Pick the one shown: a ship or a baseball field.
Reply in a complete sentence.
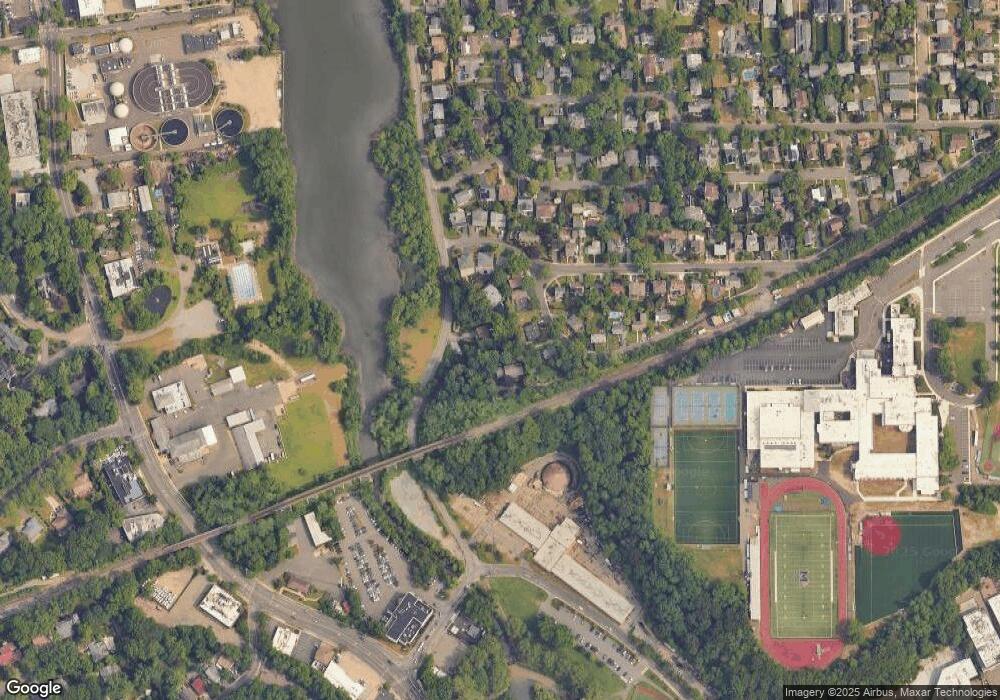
I can see a baseball field in this picture.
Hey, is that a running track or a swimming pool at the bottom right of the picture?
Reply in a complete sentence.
What appears at the bottom right of the picture is a running track.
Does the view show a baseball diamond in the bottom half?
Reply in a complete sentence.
Yes, the scene does show a baseball diamond in the bottom half.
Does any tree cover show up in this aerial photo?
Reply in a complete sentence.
Yes, tree cover can be seen from above here.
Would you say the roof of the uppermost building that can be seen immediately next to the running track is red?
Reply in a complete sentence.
No, from above the roof of the uppermost building that can be seen immediately next to the running track looks white.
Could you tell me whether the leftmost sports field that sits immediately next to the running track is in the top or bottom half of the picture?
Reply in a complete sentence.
It is in the bottom half that the leftmost sports field that sits immediately next to the running track appears.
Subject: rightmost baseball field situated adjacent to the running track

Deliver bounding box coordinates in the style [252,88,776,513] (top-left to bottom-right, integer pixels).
[855,509,964,620]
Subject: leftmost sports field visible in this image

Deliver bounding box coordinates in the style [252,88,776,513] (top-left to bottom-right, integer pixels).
[488,577,548,621]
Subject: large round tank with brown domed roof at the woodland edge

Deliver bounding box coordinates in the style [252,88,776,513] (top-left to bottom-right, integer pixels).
[541,460,572,491]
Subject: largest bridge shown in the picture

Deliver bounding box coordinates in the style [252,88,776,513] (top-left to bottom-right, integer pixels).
[239,436,446,528]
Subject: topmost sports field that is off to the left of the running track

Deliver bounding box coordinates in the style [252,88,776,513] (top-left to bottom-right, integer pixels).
[674,430,740,545]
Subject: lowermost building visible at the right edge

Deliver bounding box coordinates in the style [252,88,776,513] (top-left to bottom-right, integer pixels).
[934,658,978,700]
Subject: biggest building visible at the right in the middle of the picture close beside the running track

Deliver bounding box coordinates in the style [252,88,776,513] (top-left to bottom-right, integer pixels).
[746,304,938,495]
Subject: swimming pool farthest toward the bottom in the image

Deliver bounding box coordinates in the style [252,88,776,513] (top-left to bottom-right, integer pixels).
[228,263,260,307]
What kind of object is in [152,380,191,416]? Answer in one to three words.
building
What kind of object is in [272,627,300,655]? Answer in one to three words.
building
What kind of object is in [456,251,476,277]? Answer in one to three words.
house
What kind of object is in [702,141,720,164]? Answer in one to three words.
house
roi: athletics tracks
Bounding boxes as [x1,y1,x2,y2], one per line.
[760,477,850,669]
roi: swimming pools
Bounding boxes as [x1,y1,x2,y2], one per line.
[228,263,260,307]
[742,68,758,81]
